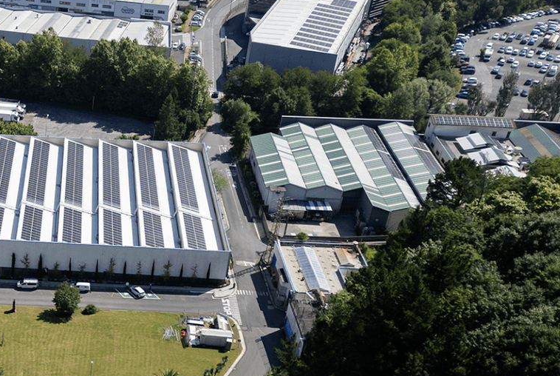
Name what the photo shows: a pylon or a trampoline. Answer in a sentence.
It is a pylon that can be seen here.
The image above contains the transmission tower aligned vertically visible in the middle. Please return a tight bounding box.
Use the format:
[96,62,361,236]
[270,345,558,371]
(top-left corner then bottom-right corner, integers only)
[261,184,291,267]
